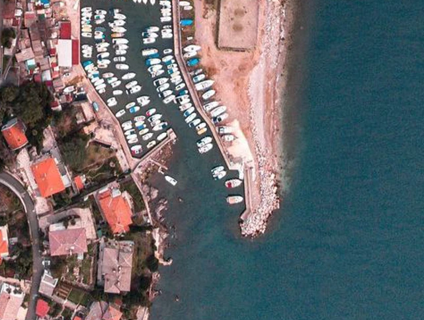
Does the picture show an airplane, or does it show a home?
home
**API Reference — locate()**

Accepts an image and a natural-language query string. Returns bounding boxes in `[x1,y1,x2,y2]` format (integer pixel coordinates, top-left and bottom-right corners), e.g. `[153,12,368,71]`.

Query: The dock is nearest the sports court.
[173,0,234,171]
